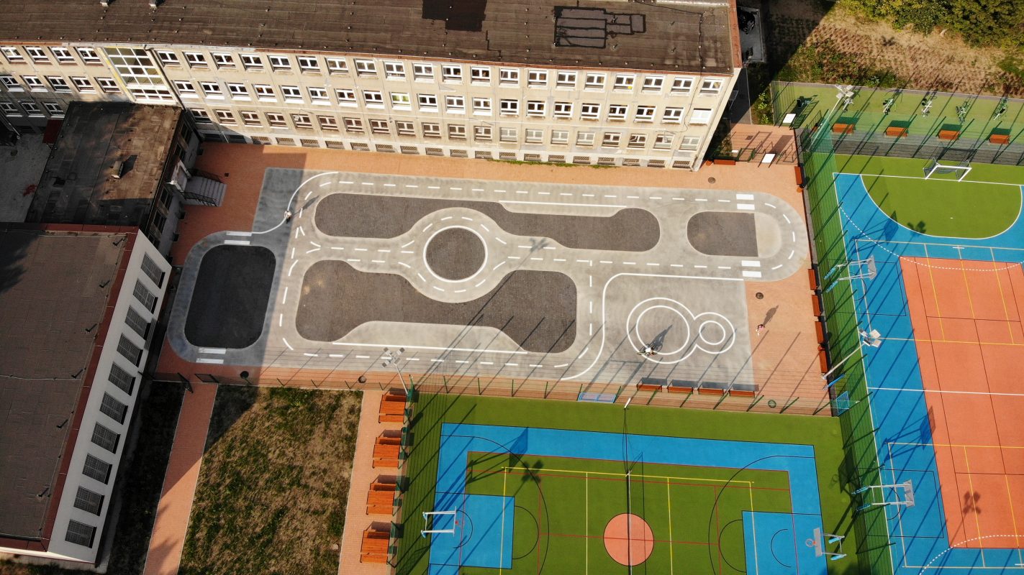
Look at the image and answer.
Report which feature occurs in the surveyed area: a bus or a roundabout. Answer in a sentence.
The one in the frame is a roundabout.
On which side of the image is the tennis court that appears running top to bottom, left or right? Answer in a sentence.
The tennis court that appears running top to bottom appears in the right half of the scene.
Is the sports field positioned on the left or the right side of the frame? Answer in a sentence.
You can find the sports field on the right side of the picture.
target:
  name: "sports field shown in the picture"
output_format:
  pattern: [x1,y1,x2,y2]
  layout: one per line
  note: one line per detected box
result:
[806,153,1024,575]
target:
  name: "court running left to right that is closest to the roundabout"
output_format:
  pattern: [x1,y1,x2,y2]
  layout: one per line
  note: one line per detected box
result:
[395,394,871,575]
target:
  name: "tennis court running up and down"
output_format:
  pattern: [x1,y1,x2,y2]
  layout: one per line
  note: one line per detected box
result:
[900,257,1024,551]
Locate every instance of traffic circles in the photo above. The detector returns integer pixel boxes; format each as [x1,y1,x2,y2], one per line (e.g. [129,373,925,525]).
[409,213,503,298]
